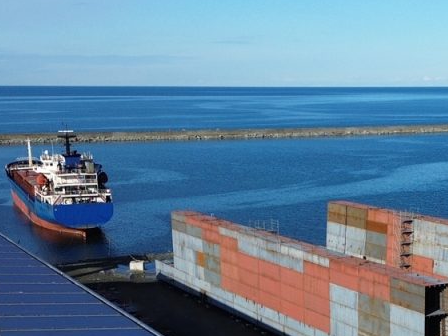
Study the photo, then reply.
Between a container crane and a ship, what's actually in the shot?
ship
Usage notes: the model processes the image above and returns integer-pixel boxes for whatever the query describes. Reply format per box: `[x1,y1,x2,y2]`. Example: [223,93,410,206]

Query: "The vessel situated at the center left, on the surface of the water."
[8,111,114,233]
